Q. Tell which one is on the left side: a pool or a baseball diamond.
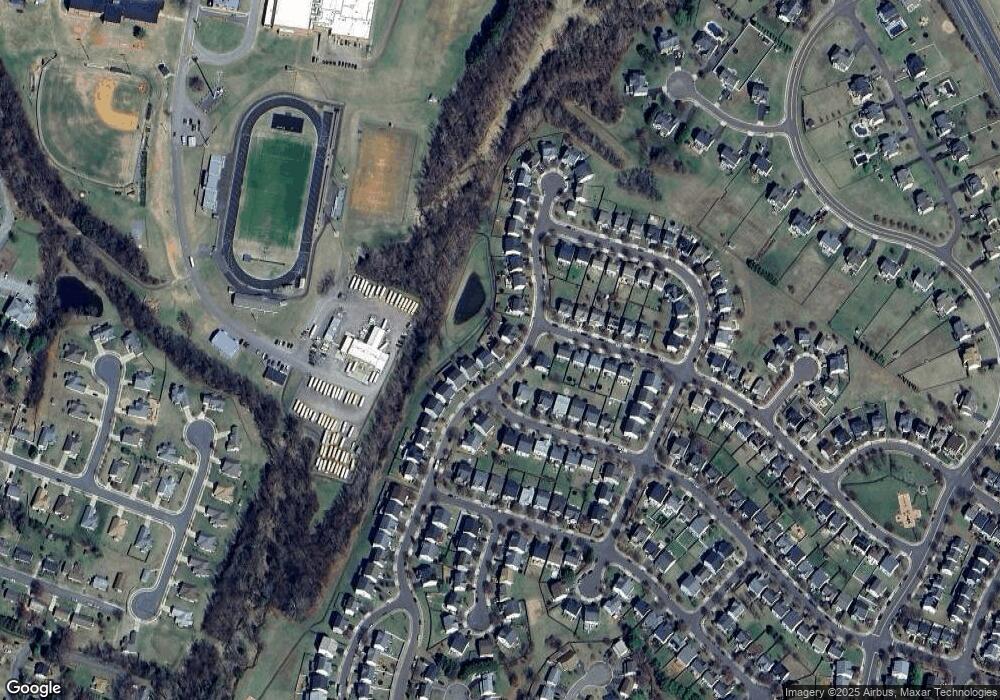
baseball diamond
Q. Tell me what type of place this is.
residential area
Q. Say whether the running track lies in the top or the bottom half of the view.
top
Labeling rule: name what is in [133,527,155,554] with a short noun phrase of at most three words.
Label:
house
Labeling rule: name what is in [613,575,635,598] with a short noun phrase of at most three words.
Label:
house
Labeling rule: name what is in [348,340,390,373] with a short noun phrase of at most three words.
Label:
building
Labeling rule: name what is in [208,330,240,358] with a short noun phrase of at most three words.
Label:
shed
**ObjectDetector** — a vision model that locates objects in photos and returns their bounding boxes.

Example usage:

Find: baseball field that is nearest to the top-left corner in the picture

[37,62,150,188]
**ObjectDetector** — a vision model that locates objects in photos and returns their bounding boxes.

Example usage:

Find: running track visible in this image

[218,90,333,296]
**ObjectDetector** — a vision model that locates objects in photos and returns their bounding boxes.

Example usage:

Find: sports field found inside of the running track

[238,135,314,248]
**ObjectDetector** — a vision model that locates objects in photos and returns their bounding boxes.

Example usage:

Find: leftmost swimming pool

[707,21,721,37]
